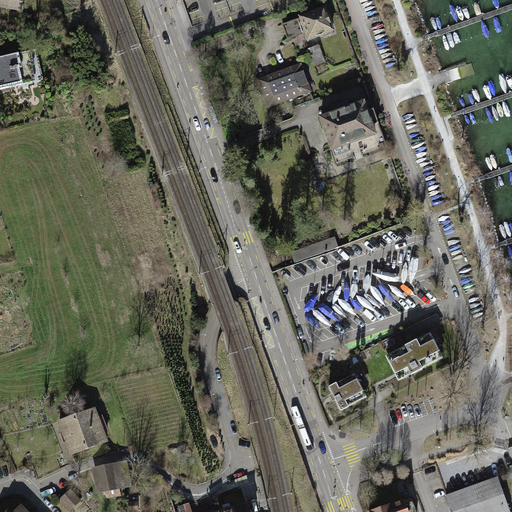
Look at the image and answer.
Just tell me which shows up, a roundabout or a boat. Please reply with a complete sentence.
The image shows a boat.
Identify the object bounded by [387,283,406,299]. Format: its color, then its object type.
white boat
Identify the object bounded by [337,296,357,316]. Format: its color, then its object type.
white boat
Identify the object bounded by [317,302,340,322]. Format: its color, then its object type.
blue boat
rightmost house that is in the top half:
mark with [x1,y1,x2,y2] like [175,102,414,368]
[318,97,384,164]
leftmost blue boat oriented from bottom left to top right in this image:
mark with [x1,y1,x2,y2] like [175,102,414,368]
[304,293,320,312]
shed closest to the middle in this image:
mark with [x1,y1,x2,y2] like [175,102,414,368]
[292,236,338,262]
